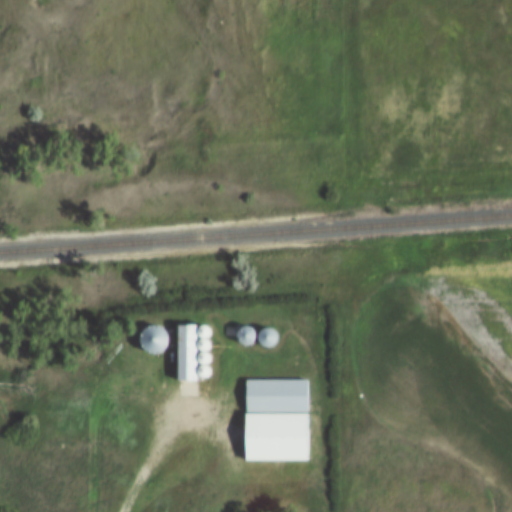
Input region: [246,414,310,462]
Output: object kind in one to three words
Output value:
barn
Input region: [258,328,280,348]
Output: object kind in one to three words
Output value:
silo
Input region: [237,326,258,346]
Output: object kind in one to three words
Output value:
silo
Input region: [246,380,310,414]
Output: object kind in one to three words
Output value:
barn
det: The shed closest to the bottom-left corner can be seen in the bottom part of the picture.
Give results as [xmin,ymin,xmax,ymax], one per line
[178,324,198,381]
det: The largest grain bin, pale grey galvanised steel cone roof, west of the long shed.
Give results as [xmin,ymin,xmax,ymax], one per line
[140,325,170,354]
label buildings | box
[178,324,198,381]
[246,380,310,414]
[246,414,310,462]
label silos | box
[140,325,170,354]
[198,365,214,379]
[237,326,258,346]
[198,338,214,352]
[198,352,214,366]
[258,328,280,348]
[198,324,214,338]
